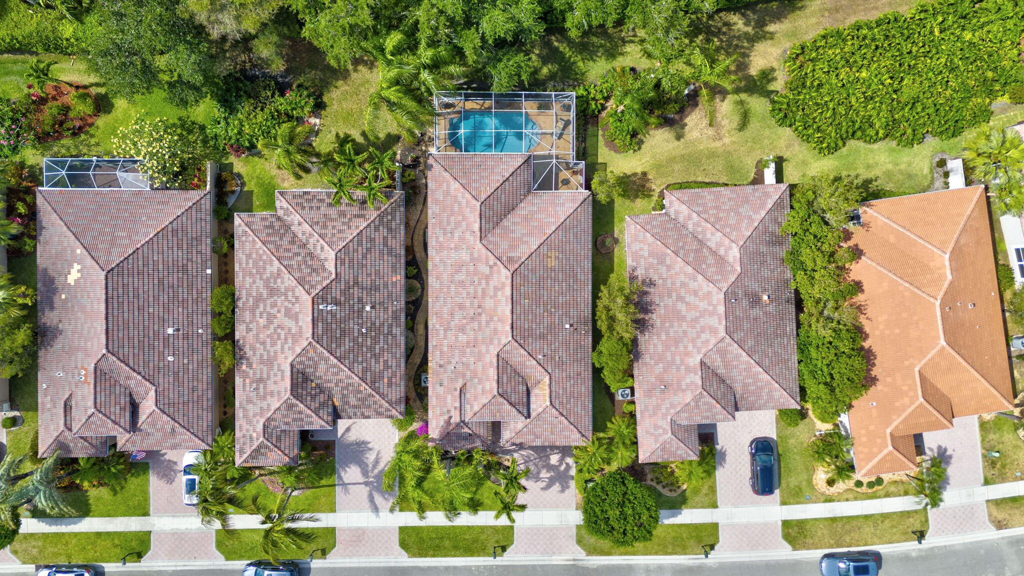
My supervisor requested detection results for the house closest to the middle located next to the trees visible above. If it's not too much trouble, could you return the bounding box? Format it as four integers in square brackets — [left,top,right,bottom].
[427,152,594,451]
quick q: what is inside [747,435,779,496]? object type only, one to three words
car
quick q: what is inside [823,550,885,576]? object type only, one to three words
car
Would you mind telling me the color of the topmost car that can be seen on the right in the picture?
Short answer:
blue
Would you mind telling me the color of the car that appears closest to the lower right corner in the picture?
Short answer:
blue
